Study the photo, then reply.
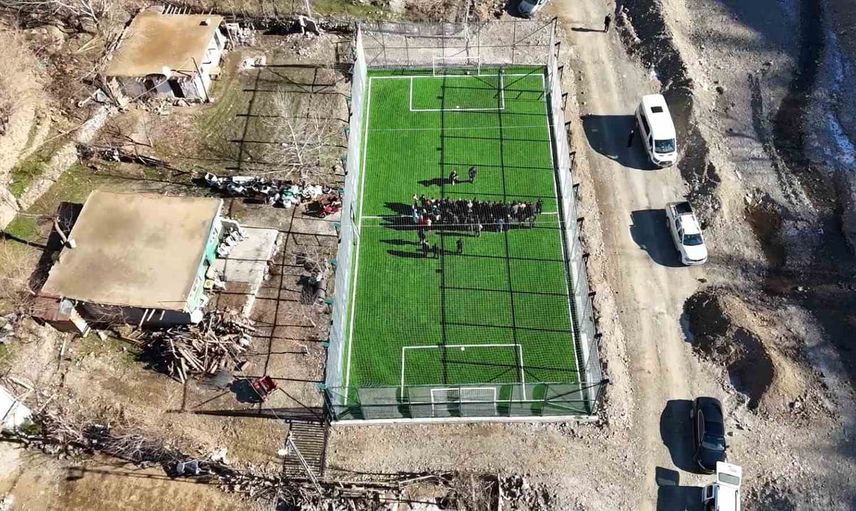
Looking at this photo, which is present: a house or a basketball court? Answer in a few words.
house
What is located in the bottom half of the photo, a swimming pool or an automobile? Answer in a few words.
automobile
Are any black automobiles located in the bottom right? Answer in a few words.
Yes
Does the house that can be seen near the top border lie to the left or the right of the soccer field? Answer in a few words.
on its left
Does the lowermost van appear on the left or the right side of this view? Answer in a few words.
right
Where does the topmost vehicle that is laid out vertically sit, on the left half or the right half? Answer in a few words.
right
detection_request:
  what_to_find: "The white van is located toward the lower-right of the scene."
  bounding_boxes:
[705,468,746,511]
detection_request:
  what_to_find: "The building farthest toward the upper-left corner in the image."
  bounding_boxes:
[108,9,227,97]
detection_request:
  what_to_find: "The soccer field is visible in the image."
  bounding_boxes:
[334,60,595,422]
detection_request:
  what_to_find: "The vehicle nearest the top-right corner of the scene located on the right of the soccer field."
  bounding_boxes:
[637,96,679,166]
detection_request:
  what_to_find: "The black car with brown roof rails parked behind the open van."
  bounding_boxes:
[689,397,731,476]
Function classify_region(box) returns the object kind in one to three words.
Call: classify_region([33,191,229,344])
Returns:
house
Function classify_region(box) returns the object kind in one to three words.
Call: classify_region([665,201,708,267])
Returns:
truck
